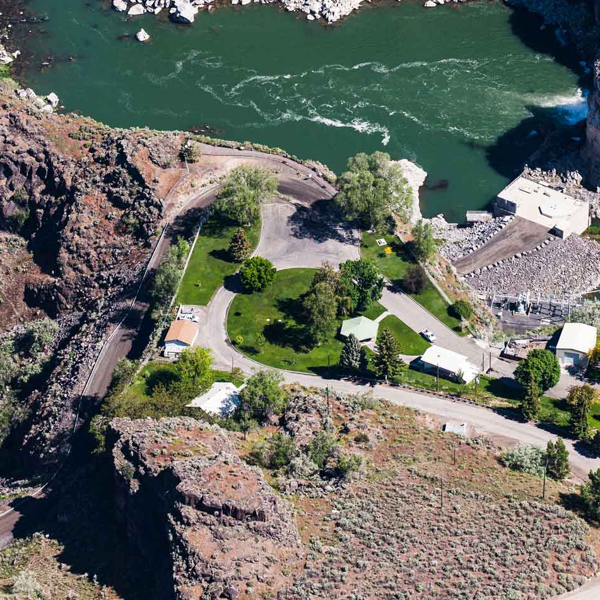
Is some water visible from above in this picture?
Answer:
Yes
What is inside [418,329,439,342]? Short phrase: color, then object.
white vehicle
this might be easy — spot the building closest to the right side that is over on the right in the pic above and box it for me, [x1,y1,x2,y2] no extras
[556,321,593,366]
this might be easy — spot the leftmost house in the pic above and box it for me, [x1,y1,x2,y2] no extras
[163,322,200,359]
